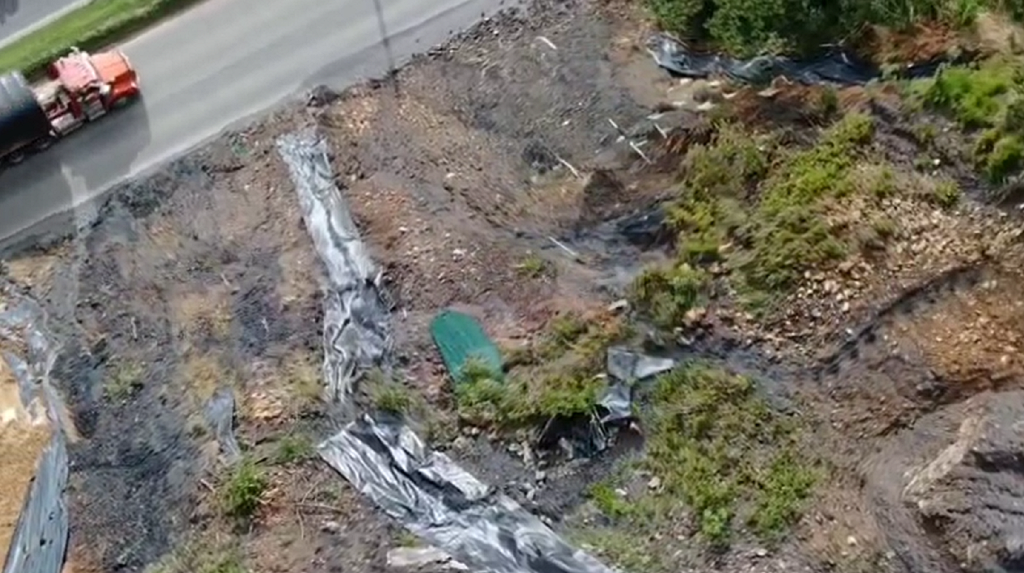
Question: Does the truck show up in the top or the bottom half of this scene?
top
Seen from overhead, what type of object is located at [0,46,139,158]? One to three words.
truck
